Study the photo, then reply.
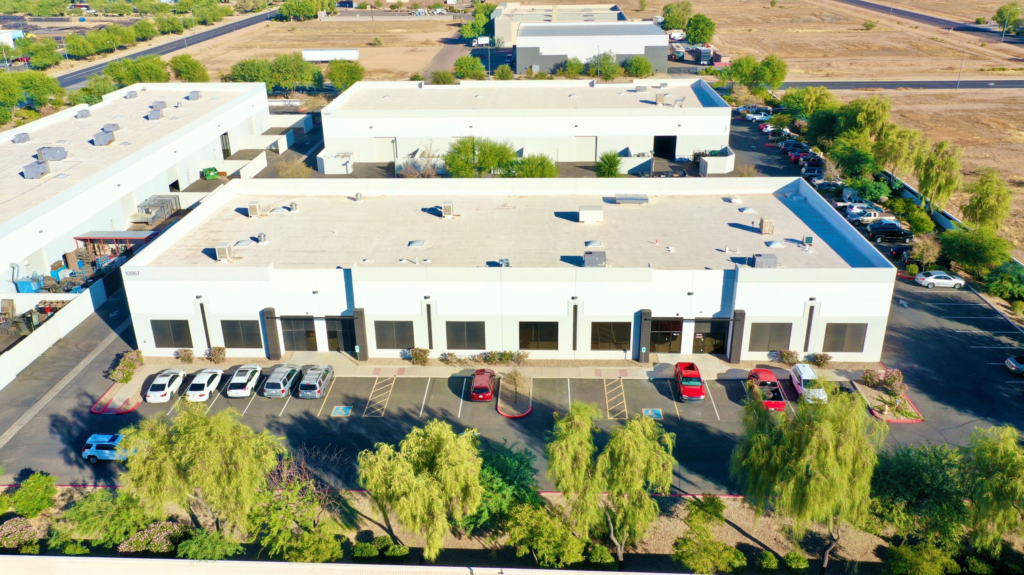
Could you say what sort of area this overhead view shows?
industrial area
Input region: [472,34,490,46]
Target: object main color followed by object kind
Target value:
white vehicle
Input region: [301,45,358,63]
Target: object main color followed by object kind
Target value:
white trailer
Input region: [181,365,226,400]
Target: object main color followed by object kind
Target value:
white car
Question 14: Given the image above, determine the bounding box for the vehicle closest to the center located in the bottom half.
[468,361,499,398]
